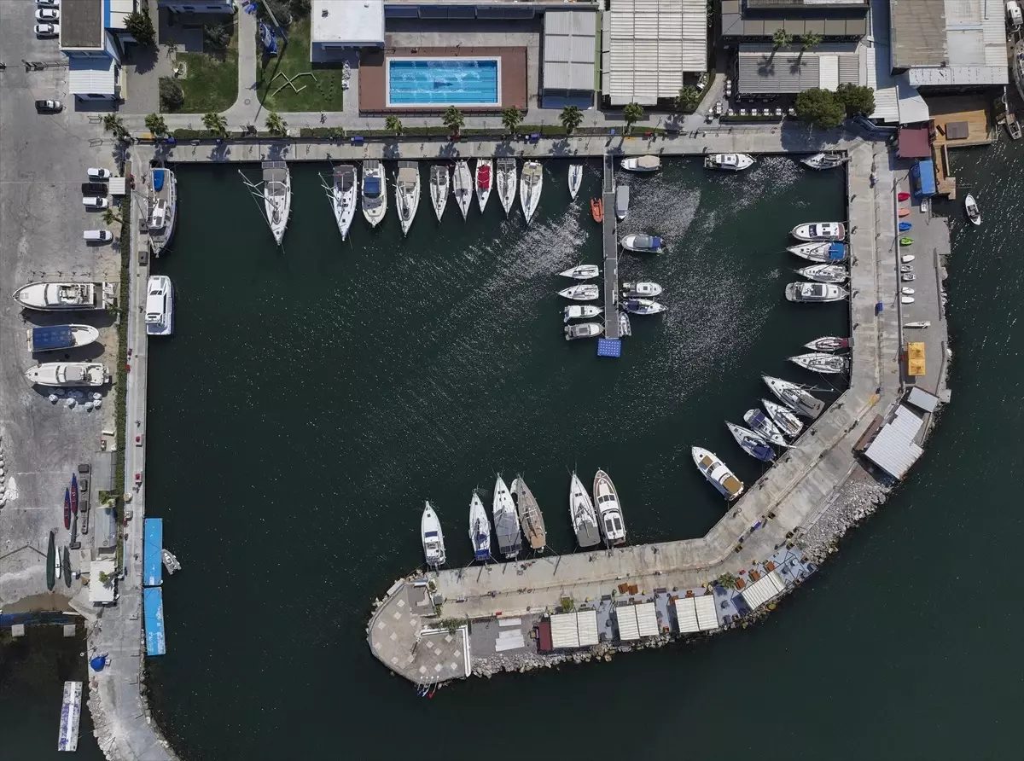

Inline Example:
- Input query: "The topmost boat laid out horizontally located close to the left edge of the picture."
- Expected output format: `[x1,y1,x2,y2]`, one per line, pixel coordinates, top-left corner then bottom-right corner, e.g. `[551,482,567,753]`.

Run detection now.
[9,282,118,311]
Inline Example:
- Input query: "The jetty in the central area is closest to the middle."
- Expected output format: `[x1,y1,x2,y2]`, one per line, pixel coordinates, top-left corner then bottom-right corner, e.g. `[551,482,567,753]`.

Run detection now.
[598,339,620,357]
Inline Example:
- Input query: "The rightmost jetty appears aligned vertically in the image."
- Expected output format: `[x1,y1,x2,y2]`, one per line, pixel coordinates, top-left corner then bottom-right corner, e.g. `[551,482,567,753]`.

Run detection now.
[932,146,956,200]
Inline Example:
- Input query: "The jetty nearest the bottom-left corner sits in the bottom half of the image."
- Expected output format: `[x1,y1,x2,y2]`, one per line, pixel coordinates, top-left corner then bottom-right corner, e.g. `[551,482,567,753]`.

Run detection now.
[58,681,84,751]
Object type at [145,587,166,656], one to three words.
pier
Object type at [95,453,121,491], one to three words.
shed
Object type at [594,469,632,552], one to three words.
boat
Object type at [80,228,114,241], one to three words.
vehicle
